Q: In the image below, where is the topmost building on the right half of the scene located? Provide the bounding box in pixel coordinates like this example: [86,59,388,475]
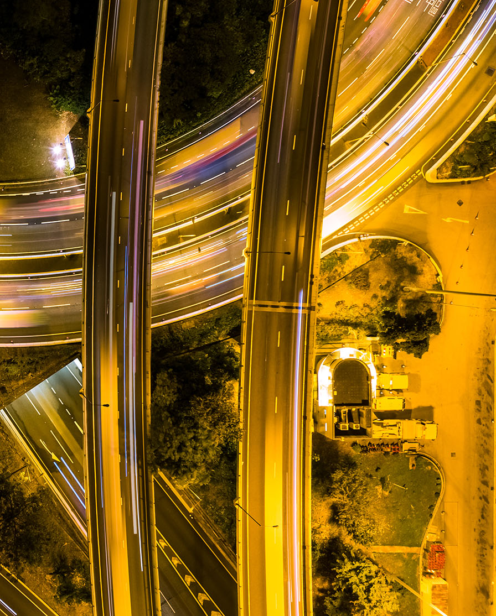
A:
[317,346,375,440]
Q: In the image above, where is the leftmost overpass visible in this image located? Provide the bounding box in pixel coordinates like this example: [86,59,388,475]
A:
[81,0,170,616]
